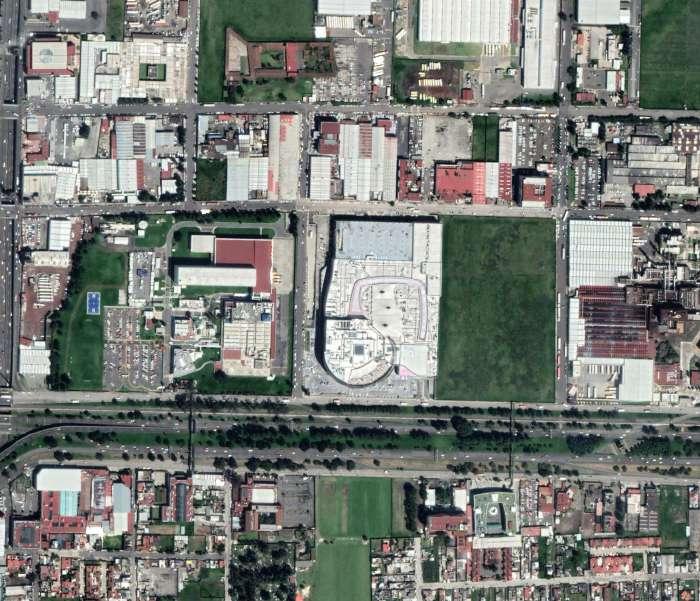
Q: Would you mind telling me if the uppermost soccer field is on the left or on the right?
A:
left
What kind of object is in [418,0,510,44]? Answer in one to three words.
building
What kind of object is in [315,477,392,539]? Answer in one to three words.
soccer field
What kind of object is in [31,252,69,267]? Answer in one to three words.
building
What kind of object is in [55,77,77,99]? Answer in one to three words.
shed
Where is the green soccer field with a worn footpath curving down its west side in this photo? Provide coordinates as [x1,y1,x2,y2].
[49,233,128,390]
